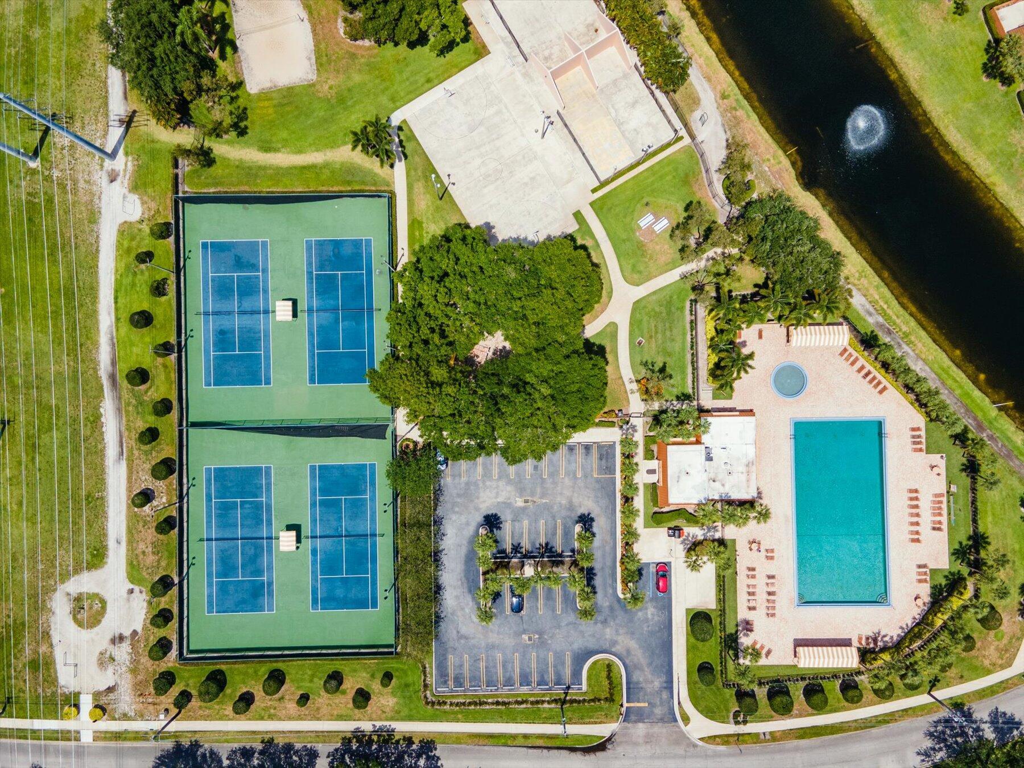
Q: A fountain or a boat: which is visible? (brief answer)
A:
fountain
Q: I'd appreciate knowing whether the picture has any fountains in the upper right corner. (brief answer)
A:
Yes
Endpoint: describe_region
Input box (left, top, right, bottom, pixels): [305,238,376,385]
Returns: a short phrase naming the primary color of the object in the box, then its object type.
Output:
blue tennis court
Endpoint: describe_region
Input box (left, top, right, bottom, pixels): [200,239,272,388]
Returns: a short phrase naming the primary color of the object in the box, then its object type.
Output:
blue tennis court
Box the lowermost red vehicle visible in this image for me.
[657,563,669,595]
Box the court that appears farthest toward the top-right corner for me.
[405,0,690,268]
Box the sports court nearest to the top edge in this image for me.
[231,0,316,92]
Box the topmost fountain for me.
[848,107,890,149]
